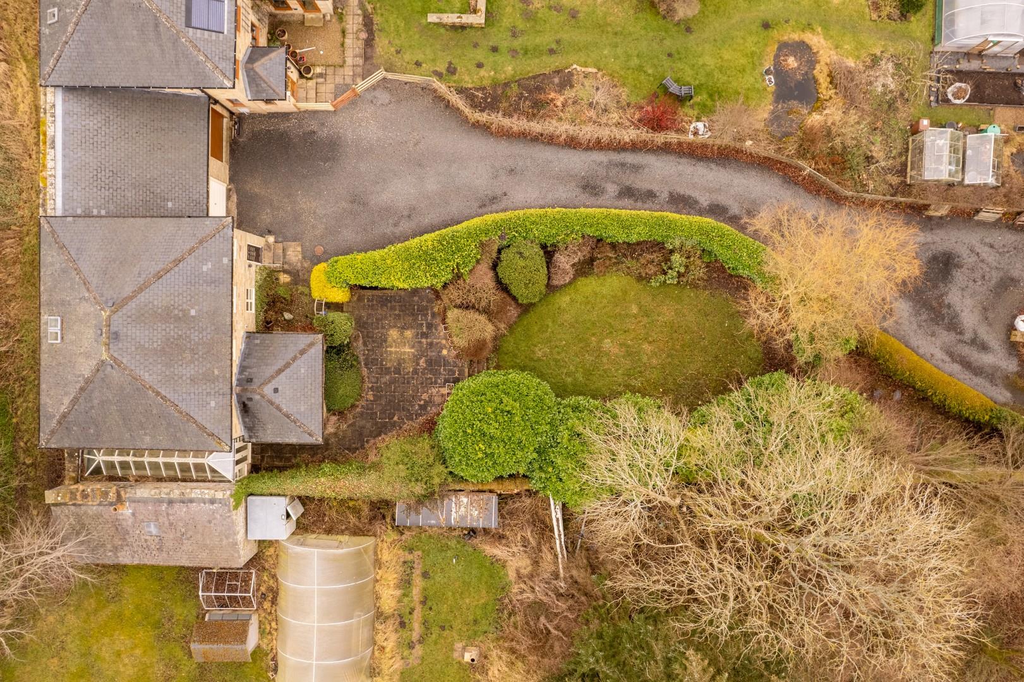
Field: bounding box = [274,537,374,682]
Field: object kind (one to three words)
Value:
greenhouse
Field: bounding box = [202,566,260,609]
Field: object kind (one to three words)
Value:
greenhouse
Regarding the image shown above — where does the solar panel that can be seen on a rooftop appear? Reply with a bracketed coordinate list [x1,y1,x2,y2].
[186,0,227,32]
